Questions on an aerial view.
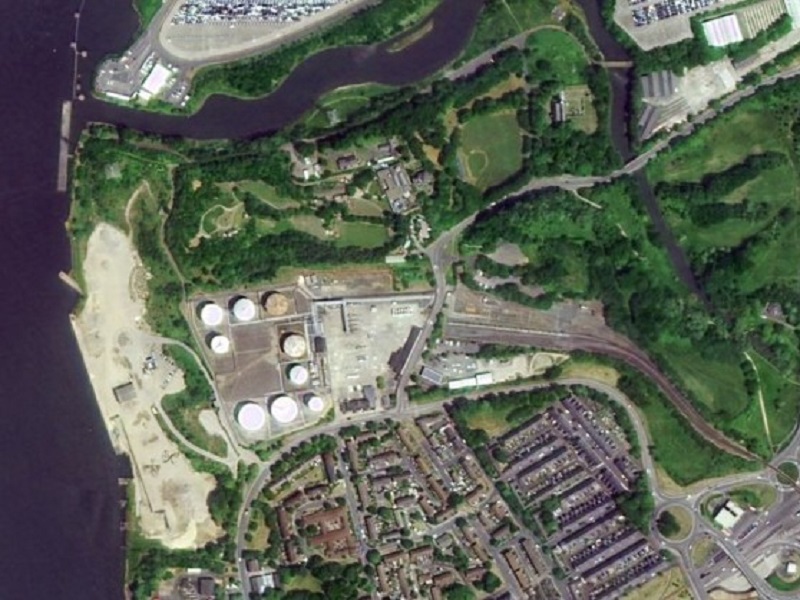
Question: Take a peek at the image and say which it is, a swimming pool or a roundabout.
roundabout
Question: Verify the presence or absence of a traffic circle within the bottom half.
Yes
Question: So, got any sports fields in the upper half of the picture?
Yes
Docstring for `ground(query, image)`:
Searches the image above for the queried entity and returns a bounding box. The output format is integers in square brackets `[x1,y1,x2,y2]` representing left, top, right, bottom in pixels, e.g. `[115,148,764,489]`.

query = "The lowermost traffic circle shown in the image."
[650,496,702,548]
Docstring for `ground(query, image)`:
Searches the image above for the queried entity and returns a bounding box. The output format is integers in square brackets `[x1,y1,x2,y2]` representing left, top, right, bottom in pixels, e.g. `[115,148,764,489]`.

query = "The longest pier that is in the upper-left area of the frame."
[58,101,71,191]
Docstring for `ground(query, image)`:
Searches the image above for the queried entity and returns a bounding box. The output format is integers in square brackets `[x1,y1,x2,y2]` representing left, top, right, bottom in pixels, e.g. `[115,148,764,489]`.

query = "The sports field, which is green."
[459,108,522,191]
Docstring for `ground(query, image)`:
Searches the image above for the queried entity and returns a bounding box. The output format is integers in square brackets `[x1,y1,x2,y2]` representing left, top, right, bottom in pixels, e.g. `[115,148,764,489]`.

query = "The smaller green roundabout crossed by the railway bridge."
[770,455,800,491]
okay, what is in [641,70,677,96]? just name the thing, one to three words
shed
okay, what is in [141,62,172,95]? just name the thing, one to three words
building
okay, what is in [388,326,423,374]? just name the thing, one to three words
building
